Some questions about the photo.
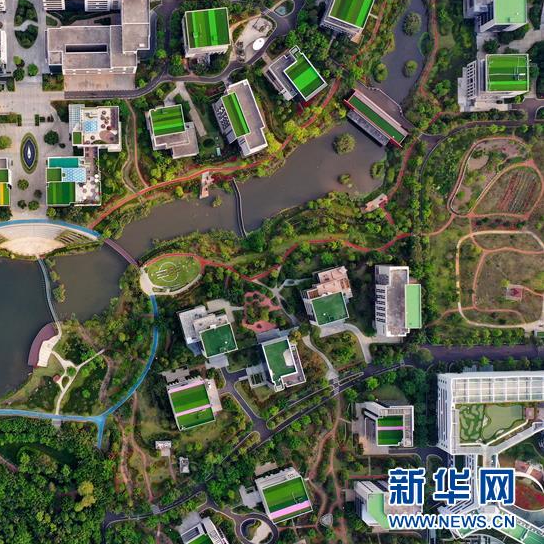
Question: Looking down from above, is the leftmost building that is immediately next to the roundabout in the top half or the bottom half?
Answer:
bottom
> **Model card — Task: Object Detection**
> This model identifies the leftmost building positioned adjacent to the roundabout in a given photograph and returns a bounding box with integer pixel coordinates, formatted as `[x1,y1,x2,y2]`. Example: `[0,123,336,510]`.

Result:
[180,511,230,544]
